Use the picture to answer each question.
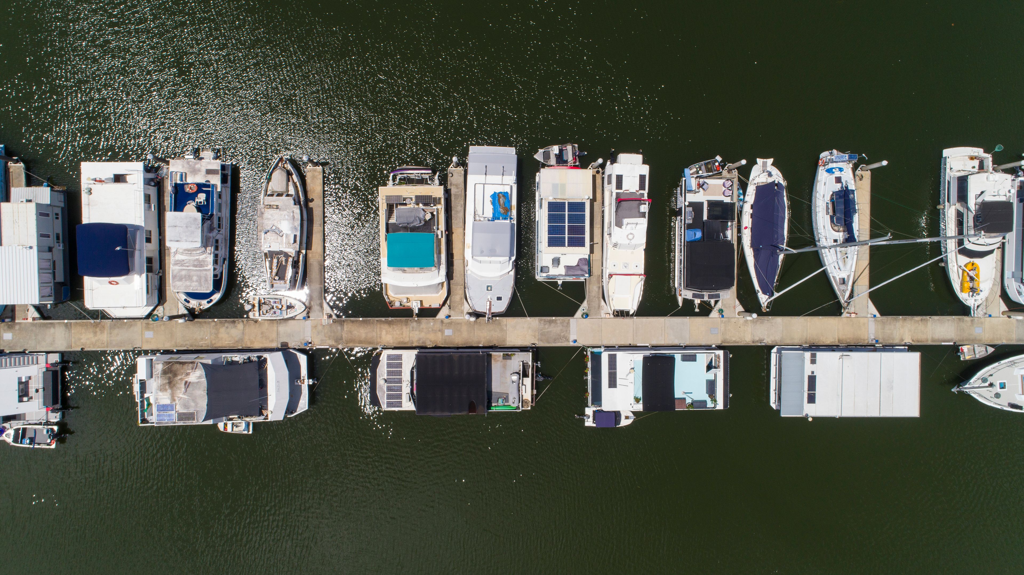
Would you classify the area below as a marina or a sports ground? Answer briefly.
marina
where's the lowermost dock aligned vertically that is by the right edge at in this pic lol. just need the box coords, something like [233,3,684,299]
[977,245,1008,316]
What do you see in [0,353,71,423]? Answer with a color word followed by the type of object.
white boat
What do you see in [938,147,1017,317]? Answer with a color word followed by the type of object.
white boat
